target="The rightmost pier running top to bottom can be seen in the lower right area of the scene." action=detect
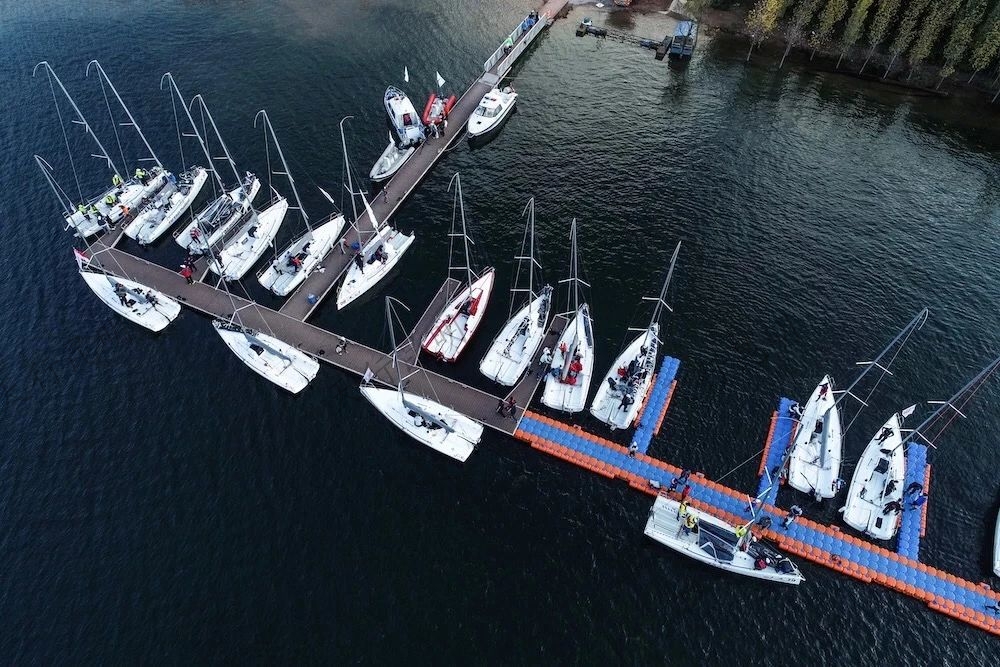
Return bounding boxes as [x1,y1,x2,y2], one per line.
[895,448,930,562]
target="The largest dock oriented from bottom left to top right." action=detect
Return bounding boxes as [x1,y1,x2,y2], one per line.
[278,76,501,321]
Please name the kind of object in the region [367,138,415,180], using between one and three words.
boat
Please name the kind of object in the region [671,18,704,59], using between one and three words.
boat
